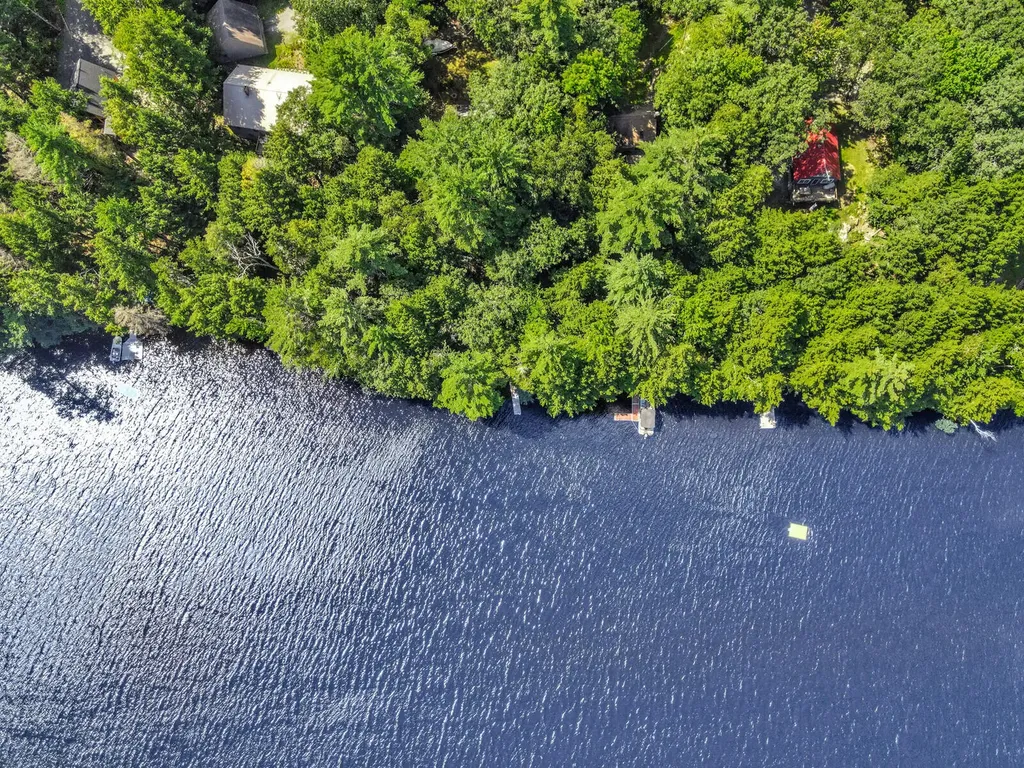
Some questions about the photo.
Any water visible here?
Yes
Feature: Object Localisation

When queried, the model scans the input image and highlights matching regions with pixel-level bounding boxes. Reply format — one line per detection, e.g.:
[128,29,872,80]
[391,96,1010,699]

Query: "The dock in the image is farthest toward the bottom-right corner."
[759,397,776,429]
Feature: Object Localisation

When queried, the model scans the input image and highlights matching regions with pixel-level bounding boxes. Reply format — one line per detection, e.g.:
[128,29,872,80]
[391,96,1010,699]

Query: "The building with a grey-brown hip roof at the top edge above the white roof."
[214,0,270,67]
